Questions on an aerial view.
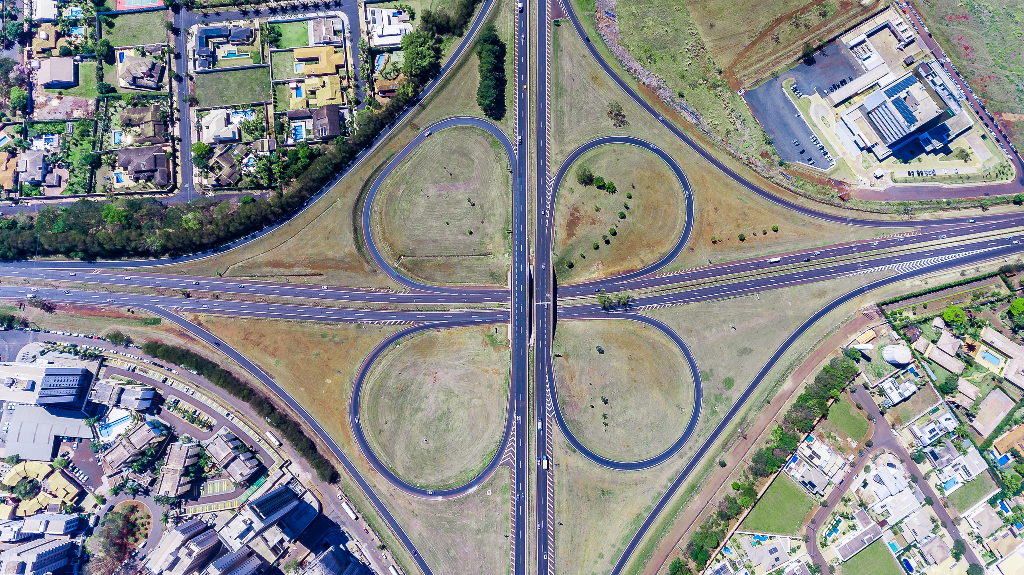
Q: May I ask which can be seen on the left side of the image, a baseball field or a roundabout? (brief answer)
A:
roundabout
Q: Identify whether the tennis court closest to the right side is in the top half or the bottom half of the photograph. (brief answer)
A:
bottom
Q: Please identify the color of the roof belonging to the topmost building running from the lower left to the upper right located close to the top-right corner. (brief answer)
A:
white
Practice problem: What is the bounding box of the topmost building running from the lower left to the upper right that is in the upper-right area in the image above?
[836,6,897,48]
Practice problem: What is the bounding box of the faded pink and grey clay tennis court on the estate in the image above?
[967,389,1015,439]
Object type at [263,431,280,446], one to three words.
vehicle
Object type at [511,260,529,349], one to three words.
overpass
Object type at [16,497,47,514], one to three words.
house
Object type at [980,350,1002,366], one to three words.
swimming pool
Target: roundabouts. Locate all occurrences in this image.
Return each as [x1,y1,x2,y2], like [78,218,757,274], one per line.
[90,487,164,574]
